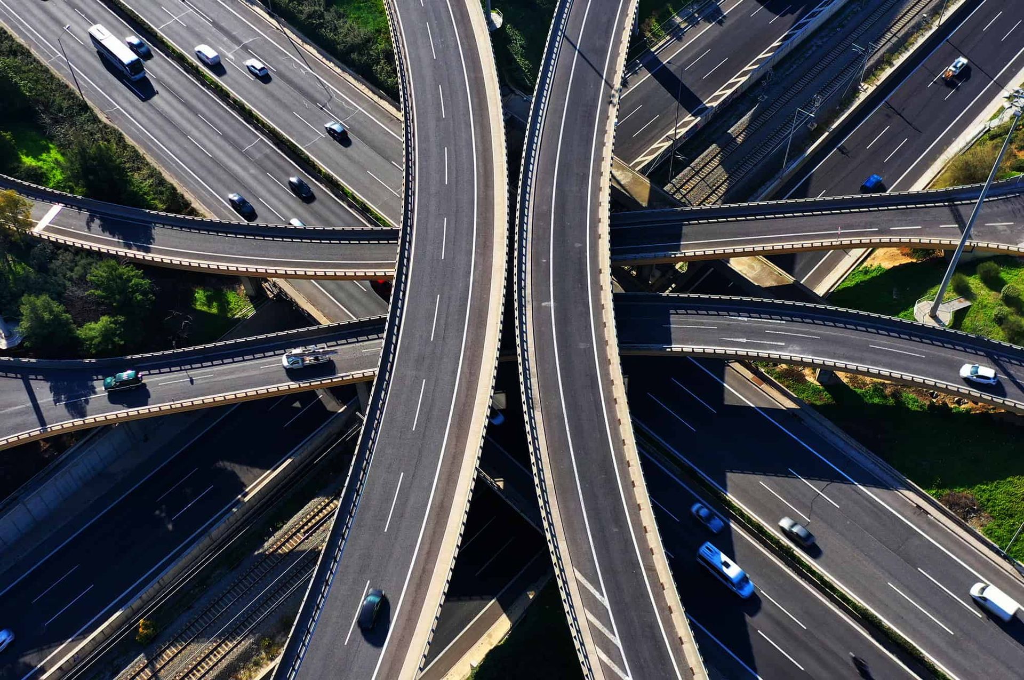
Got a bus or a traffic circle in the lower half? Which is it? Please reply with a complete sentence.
There is a bus in the lower half.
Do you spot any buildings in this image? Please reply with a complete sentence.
No, the frame has no building in it.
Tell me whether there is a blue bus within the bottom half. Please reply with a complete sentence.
Yes, there is a blue bus within the bottom half.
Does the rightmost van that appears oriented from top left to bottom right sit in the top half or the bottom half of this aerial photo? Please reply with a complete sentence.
The rightmost van that appears oriented from top left to bottom right sits in the bottom half of the picture.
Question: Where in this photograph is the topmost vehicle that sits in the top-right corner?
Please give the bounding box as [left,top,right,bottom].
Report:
[941,61,967,82]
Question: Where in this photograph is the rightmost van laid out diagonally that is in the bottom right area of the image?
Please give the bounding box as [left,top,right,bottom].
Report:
[965,581,1024,630]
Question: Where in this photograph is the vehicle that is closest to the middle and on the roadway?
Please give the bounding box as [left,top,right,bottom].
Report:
[489,402,510,429]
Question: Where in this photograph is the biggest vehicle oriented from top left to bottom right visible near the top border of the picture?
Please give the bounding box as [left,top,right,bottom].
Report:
[88,28,147,83]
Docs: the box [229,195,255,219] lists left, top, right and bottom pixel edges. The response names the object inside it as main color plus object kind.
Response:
black car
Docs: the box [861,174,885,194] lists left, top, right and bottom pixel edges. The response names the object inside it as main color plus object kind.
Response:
blue car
